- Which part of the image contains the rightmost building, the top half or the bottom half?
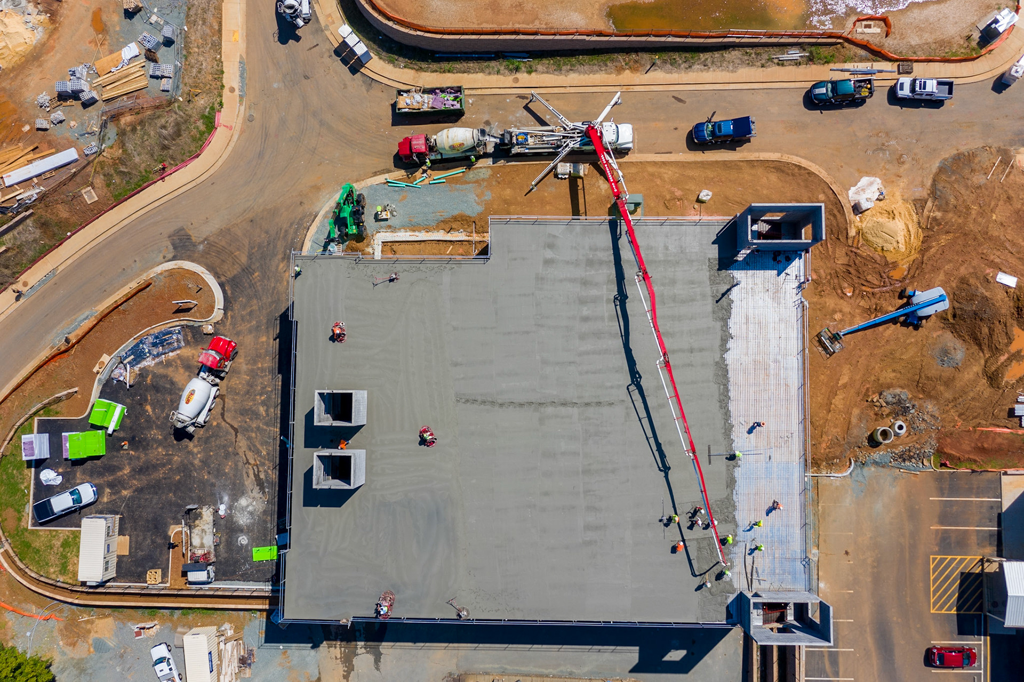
bottom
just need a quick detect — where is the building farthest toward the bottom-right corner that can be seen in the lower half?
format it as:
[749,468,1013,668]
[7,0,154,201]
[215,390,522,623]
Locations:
[987,558,1024,628]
